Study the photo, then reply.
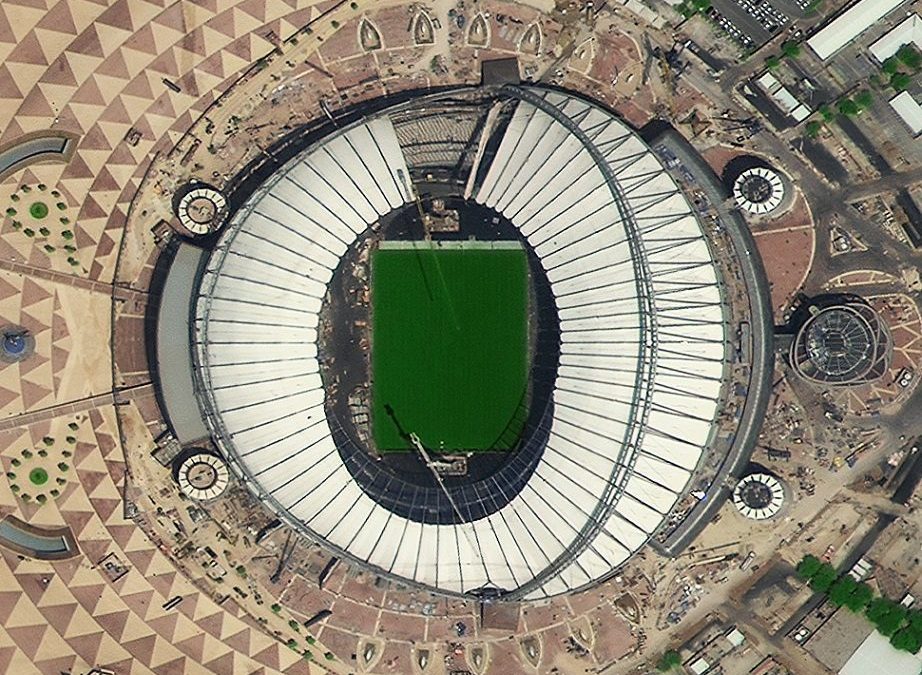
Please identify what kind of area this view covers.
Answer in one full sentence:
It's a sports ground.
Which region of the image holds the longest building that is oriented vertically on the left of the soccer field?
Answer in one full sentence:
The longest building that is oriented vertically on the left of the soccer field is in the left part of the image.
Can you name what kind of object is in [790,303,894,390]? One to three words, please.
building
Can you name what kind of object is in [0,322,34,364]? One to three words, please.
fountain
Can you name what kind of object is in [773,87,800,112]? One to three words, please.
building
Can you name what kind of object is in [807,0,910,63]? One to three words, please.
shed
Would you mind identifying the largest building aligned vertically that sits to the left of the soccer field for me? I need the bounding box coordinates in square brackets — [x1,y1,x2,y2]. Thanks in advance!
[157,240,212,446]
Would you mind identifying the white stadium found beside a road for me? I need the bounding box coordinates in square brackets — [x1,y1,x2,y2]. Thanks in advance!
[195,85,729,602]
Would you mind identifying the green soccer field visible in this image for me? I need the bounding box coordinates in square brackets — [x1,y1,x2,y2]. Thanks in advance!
[371,238,531,456]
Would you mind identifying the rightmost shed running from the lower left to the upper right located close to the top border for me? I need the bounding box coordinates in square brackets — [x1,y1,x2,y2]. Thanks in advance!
[869,12,922,65]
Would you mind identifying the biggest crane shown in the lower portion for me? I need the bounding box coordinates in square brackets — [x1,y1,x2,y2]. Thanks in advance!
[411,436,475,550]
